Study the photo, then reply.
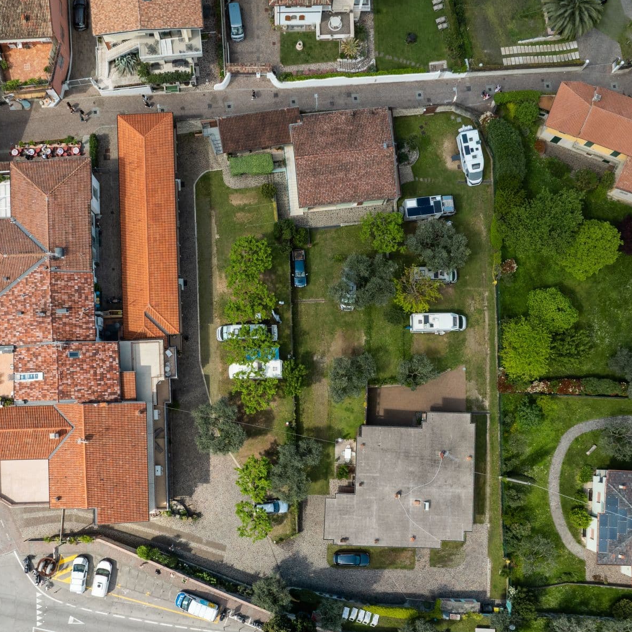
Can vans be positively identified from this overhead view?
Yes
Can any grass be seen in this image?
Yes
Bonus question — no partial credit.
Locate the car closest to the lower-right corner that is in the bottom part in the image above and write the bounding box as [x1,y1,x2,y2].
[333,549,369,567]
